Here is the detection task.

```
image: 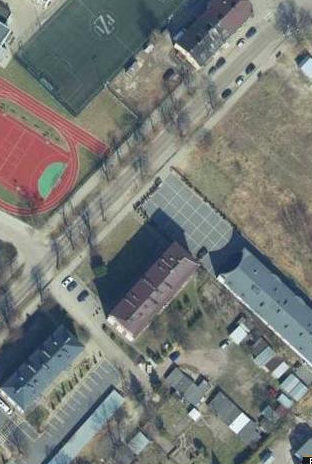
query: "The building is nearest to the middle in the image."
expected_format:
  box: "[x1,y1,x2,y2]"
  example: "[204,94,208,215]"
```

[110,242,201,340]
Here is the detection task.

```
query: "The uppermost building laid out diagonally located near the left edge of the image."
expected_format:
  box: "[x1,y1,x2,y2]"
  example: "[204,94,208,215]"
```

[1,324,85,413]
